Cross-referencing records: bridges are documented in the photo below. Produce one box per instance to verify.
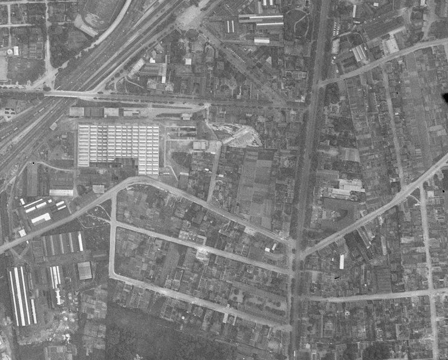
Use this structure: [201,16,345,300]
[48,89,112,101]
